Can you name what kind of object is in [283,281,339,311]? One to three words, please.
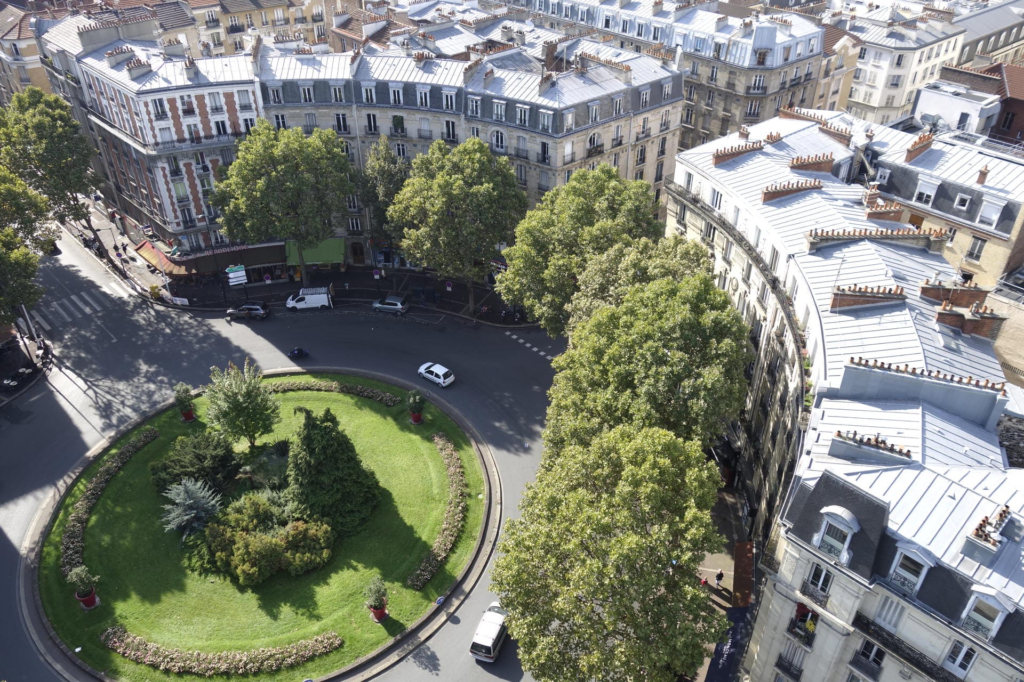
vehicle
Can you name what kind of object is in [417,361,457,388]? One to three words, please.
car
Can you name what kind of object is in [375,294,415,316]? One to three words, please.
car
